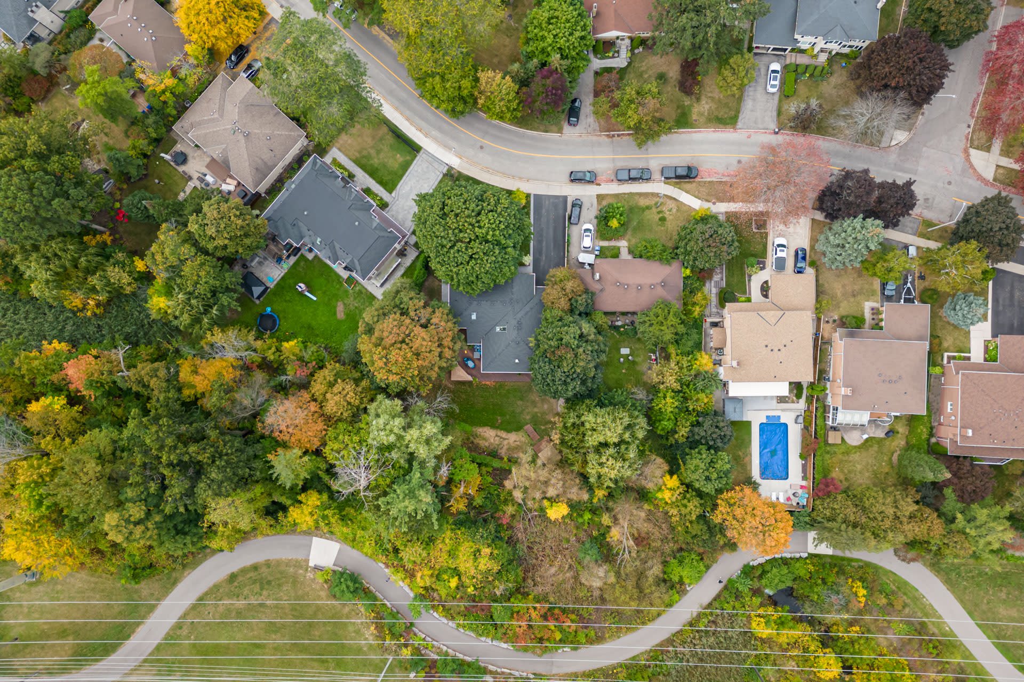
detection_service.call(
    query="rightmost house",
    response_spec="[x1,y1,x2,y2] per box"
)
[933,335,1024,465]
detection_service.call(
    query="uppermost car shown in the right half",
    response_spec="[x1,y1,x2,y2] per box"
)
[766,62,782,92]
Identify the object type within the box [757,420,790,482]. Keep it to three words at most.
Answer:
swimming pool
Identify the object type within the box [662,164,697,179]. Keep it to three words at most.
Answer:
vehicle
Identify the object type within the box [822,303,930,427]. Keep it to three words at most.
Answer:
house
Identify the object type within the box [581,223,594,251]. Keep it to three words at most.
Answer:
vehicle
